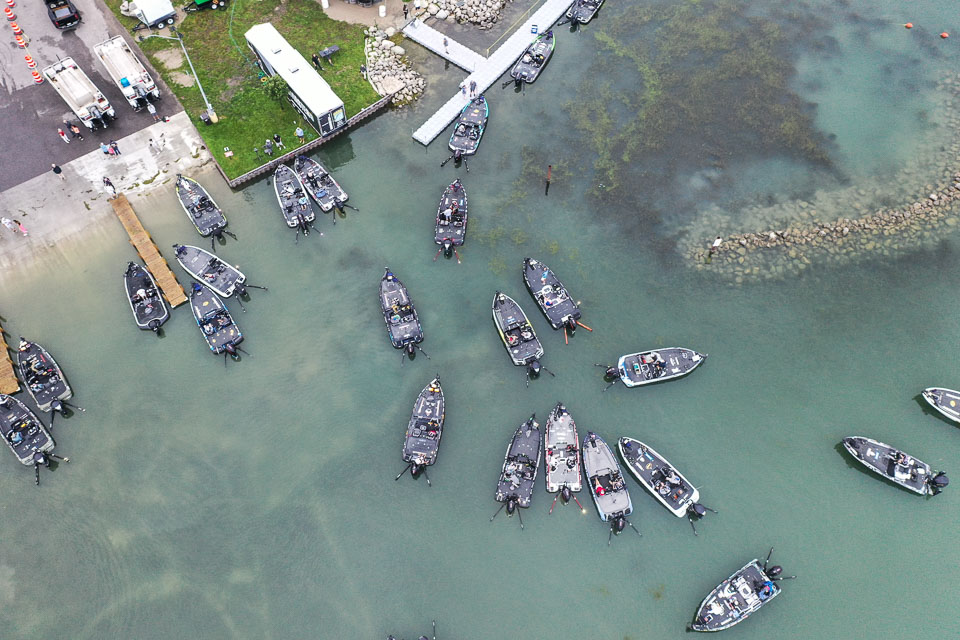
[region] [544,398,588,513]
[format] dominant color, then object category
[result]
white boat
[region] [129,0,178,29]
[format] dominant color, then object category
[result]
white trailer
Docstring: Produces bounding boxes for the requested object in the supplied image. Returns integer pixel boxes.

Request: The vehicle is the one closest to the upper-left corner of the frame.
[46,0,78,28]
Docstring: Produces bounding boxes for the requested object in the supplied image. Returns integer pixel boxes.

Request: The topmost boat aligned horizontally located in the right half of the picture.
[598,345,712,392]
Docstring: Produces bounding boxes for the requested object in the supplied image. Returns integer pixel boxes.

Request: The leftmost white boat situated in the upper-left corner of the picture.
[40,51,117,134]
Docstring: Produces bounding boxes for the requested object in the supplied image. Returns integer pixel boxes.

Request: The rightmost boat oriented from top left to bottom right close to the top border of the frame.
[92,28,164,114]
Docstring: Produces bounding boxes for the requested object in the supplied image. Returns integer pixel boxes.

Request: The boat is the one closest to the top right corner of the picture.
[557,0,608,35]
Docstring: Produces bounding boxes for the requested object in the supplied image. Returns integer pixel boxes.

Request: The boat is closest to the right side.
[922,386,960,426]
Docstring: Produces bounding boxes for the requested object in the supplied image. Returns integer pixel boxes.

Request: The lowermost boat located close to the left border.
[0,390,69,482]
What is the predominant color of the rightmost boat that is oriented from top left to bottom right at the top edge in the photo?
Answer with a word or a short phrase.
white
